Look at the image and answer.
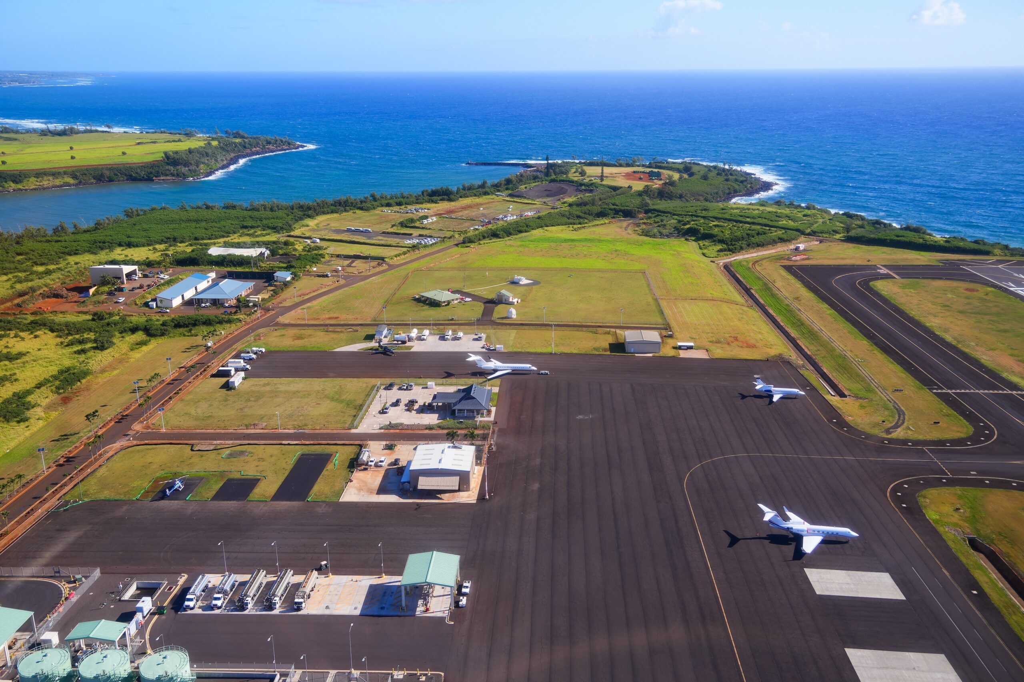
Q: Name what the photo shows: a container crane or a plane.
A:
plane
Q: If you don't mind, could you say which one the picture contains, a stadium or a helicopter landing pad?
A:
helicopter landing pad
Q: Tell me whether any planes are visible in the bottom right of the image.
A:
Yes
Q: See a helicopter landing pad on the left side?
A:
Yes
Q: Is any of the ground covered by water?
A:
Yes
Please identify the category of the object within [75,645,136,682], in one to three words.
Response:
storage tank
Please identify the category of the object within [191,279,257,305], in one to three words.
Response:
building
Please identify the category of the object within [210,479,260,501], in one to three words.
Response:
helipad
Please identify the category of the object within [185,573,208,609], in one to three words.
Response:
truck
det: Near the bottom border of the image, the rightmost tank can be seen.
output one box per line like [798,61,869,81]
[137,647,195,682]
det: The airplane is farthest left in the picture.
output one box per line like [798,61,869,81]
[372,340,396,355]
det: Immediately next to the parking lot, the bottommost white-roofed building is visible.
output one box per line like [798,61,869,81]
[403,440,477,491]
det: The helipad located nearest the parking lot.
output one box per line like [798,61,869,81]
[270,454,333,502]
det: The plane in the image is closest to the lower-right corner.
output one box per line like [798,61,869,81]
[764,505,859,550]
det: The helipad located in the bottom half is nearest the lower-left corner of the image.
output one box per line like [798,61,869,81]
[157,477,204,501]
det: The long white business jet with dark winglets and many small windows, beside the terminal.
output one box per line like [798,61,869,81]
[464,354,537,378]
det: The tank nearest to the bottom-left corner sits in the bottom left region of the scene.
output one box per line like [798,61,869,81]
[14,644,76,682]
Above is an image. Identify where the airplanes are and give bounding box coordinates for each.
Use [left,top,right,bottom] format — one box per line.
[372,340,396,355]
[757,379,805,400]
[764,505,859,550]
[464,354,537,378]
